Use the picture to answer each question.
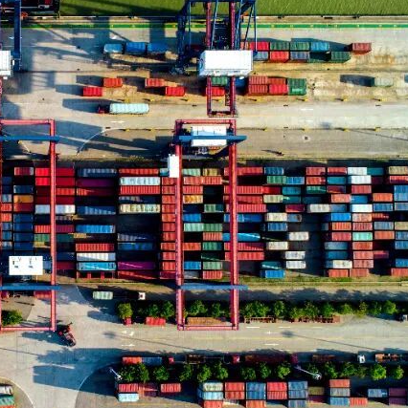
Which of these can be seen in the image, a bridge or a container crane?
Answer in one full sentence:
There is a container crane in the scene.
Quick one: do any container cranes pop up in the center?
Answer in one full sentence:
Yes, a container crane can be seen in the center.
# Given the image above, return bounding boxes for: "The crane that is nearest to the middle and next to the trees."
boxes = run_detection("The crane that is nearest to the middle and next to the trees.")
[156,119,252,330]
